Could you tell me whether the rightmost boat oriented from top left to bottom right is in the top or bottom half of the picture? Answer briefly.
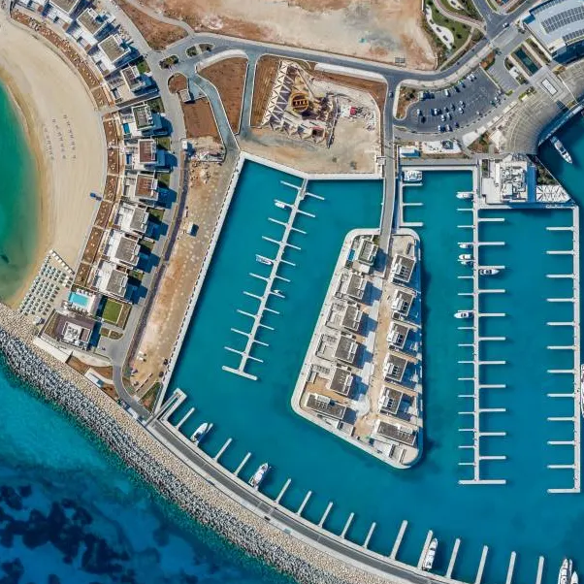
top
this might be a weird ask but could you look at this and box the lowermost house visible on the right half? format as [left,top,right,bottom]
[371,414,426,445]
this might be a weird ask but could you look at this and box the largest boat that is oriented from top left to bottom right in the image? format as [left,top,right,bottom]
[548,136,571,163]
